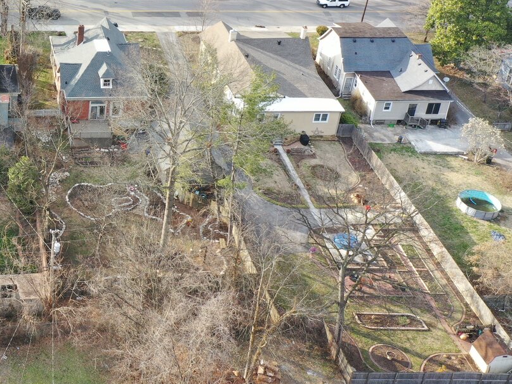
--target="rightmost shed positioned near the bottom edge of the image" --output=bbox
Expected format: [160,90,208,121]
[465,321,512,374]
